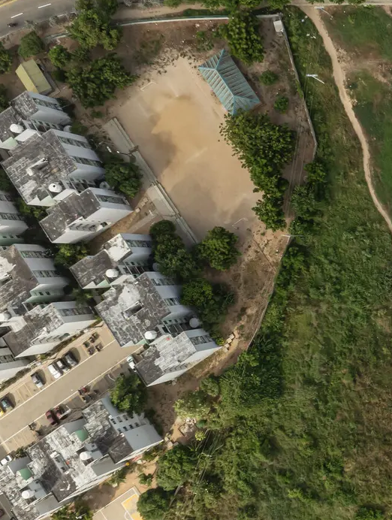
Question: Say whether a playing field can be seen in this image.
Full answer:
Yes, the frame does contain a playing field.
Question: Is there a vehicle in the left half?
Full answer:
Yes, I can see a vehicle in the left half.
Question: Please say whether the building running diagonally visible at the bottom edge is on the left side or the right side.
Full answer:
It is on the left.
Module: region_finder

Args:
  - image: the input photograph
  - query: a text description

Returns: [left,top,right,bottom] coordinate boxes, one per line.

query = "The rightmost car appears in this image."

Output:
[122,352,137,371]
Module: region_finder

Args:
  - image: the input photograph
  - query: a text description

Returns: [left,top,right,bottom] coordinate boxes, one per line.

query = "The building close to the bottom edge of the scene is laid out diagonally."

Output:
[0,392,162,520]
